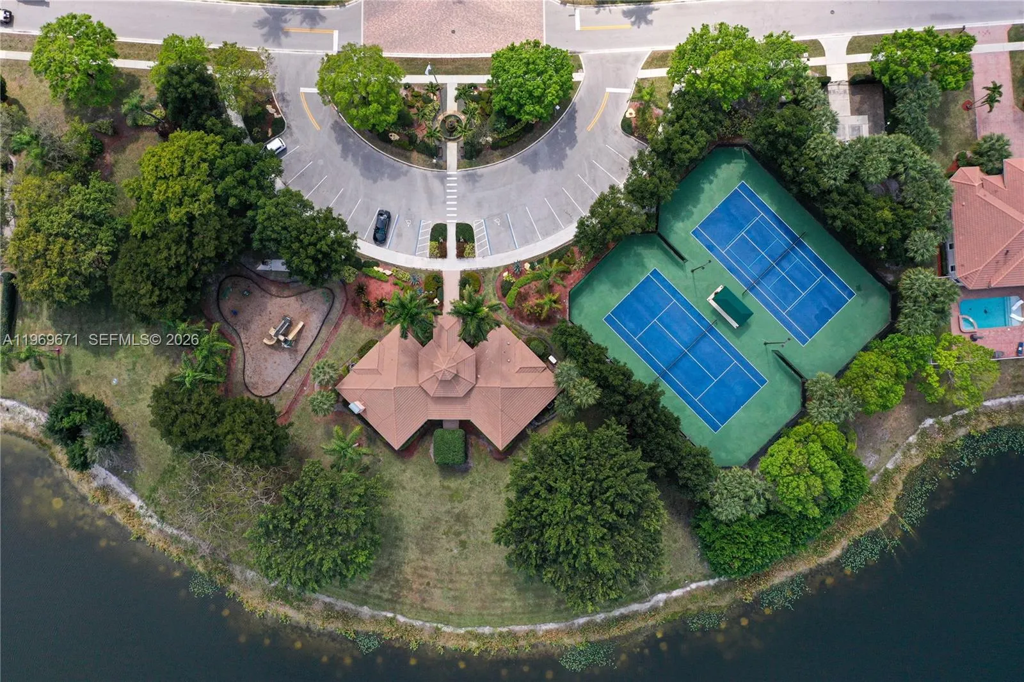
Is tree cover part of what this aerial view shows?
Yes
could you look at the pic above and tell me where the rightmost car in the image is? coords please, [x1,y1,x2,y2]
[373,210,391,245]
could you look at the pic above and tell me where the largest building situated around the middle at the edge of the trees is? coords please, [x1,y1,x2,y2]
[335,315,561,452]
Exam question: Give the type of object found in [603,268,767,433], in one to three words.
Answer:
tennis court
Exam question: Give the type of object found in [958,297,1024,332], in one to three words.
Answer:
swimming pool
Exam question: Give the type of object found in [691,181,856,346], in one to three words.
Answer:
tennis court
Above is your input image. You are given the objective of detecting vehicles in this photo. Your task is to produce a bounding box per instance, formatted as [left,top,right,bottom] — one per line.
[257,135,287,161]
[0,10,14,27]
[373,210,391,245]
